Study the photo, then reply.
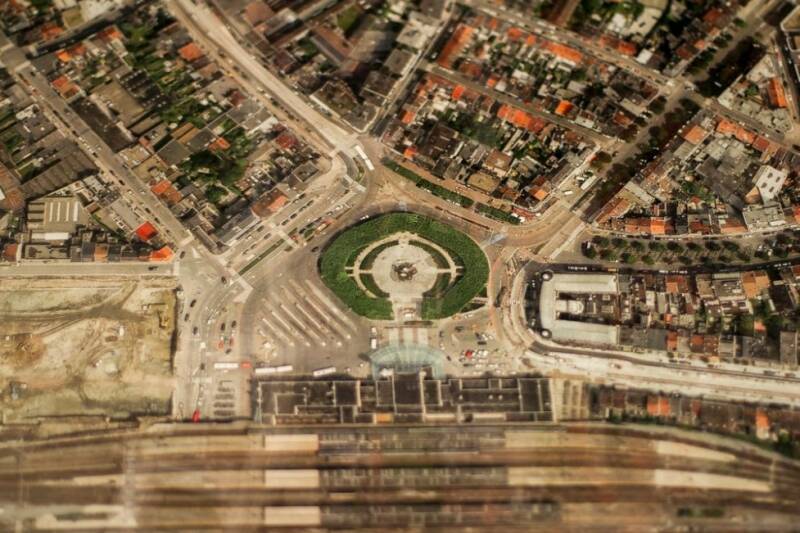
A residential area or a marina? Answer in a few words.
residential area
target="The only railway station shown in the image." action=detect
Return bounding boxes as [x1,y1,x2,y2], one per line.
[258,342,560,427]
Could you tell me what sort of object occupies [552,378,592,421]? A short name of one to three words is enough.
building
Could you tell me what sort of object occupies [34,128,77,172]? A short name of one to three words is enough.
house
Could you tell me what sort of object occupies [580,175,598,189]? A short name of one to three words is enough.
vehicle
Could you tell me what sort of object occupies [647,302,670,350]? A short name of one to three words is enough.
house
